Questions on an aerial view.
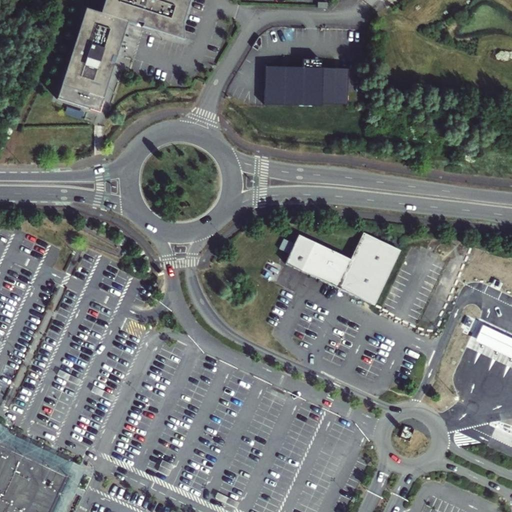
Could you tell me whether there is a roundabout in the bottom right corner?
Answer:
Yes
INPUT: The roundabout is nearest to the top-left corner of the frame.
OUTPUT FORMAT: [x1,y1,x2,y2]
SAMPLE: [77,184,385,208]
[119,121,242,243]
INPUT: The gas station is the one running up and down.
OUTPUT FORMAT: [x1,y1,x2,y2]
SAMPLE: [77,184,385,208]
[438,282,512,456]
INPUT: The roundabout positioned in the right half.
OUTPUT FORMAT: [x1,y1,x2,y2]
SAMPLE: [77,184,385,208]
[374,401,448,476]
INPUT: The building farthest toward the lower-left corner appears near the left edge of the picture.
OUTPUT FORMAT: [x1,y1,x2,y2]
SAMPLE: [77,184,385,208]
[0,426,86,512]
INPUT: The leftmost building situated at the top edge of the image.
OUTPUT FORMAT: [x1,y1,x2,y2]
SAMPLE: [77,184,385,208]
[57,0,195,110]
